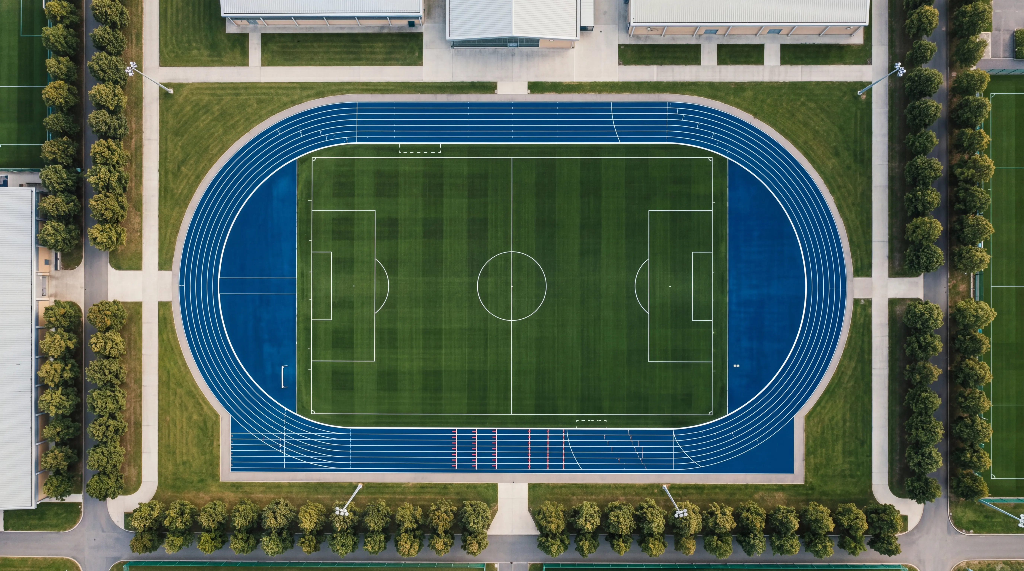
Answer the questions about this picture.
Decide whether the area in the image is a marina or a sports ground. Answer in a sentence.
What you see here is a sports ground.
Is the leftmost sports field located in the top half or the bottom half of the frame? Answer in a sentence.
The top half of the photo is where the leftmost sports field is.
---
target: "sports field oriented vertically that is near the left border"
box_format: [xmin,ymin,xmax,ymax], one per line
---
[0,0,56,168]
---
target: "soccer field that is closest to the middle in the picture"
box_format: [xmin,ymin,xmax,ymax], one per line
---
[296,144,728,428]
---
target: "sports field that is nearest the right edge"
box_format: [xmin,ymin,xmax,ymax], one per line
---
[984,74,1024,498]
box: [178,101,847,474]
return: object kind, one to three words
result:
running track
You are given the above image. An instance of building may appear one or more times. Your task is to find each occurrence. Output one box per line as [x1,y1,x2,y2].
[220,0,423,26]
[628,0,870,37]
[446,0,579,50]
[0,187,51,510]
